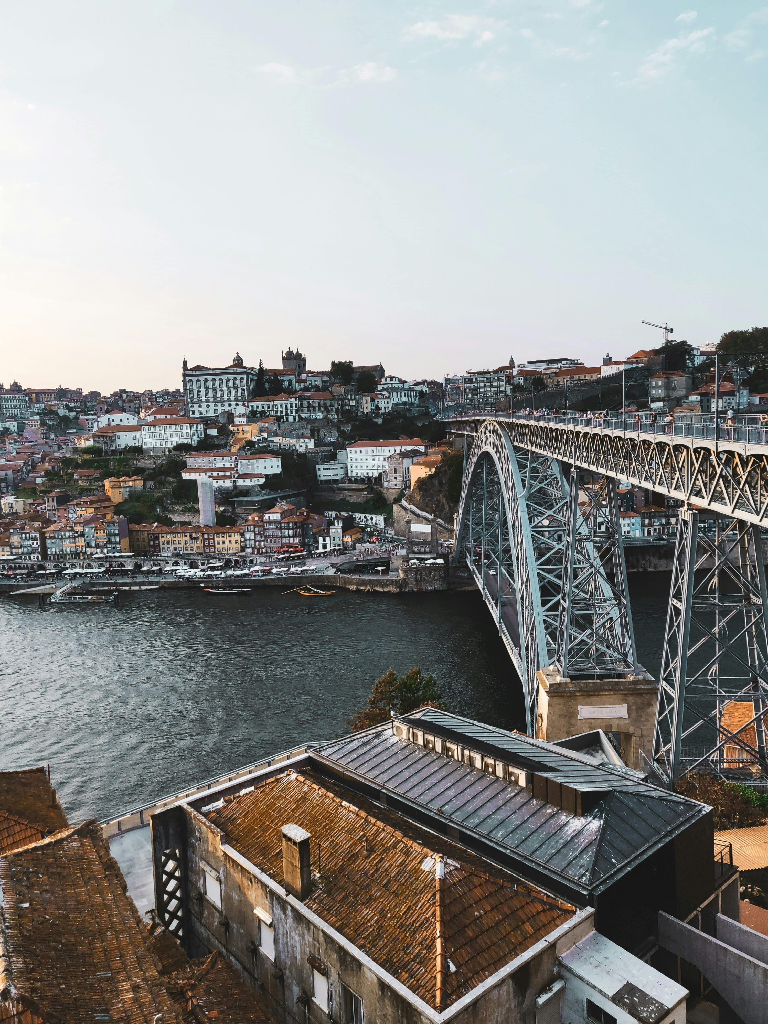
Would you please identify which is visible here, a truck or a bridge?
bridge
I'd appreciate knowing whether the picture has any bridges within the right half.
Yes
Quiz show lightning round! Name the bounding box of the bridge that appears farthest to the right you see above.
[439,407,768,789]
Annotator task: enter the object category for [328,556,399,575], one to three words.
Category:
bridge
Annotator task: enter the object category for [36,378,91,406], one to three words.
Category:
building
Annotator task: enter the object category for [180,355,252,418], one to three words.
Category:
building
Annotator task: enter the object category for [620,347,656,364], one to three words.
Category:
house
